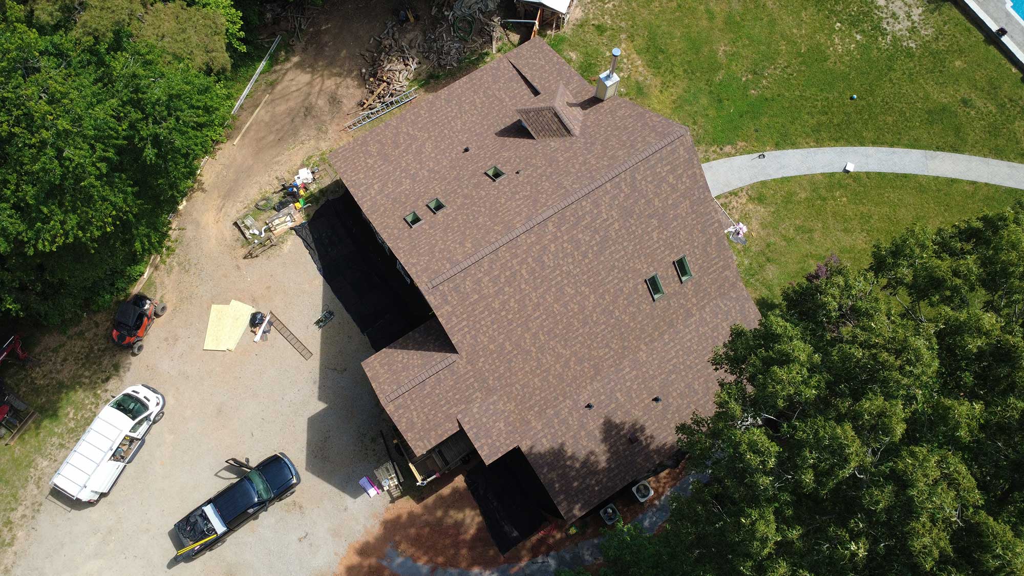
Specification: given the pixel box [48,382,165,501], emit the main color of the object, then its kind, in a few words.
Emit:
white van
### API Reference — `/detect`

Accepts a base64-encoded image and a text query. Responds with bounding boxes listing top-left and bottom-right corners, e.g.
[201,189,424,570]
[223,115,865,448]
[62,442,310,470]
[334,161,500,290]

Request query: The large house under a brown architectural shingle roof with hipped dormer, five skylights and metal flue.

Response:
[331,36,775,528]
